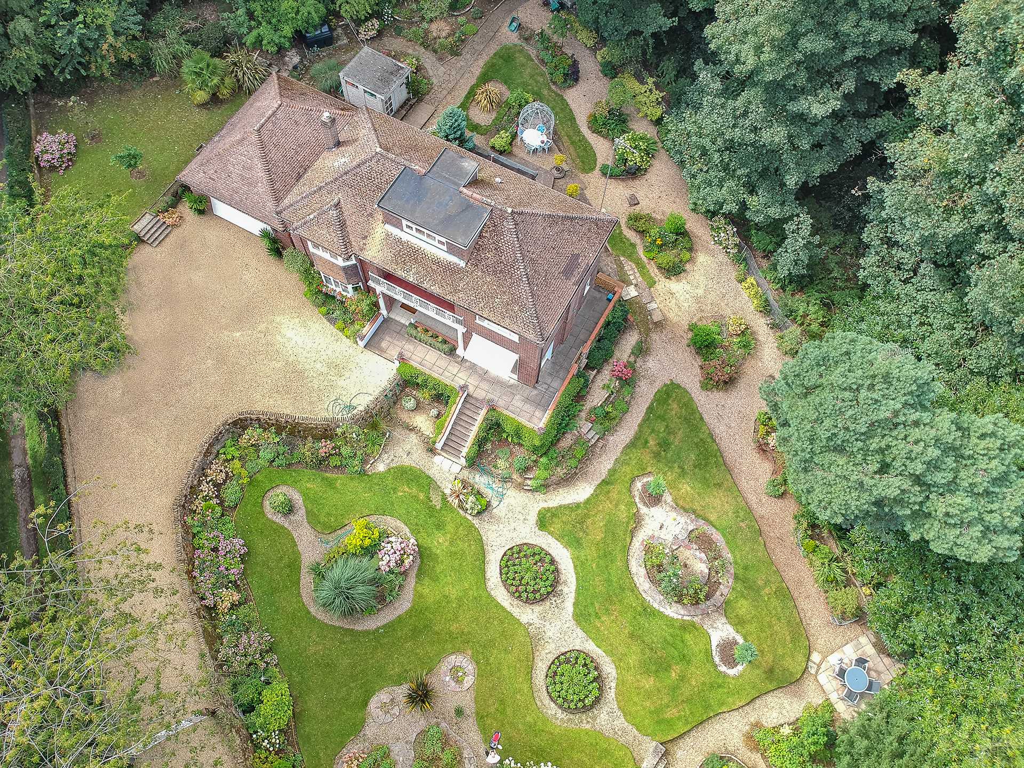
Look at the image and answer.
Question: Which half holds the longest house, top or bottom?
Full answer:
The longest house sits in the top half of the picture.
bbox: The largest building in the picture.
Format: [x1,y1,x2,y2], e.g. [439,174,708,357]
[176,74,627,383]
